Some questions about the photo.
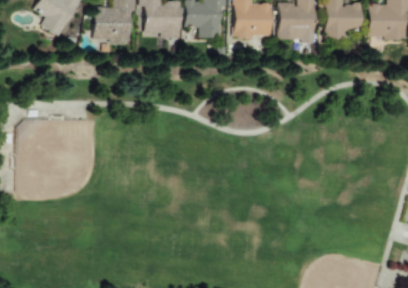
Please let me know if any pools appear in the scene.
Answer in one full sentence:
Yes, a pool appears in the view.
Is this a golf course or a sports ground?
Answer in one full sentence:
This image shows a sports ground.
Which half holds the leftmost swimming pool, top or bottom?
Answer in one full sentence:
The top half of the photo is where the leftmost swimming pool is.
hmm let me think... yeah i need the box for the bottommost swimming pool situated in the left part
[79,34,100,53]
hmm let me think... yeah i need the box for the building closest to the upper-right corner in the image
[368,0,408,41]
